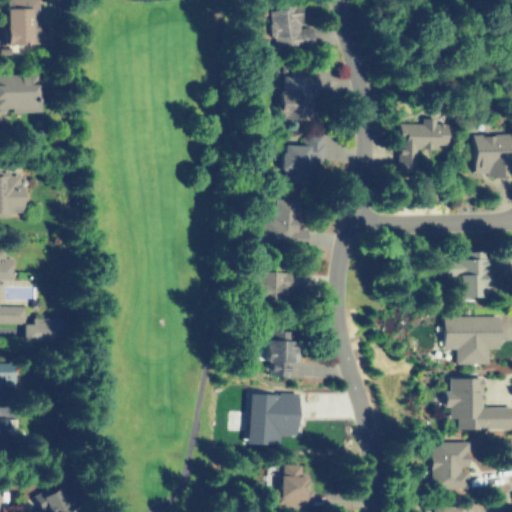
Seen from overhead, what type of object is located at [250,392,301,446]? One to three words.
house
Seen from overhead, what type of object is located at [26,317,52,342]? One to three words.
house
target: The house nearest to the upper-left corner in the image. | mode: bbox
[10,0,42,45]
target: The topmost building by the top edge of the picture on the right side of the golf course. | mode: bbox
[271,10,316,45]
